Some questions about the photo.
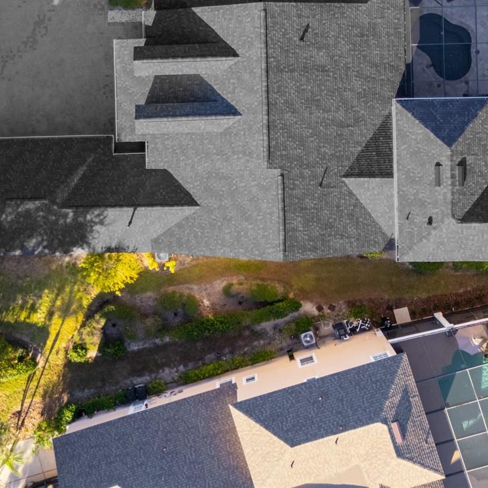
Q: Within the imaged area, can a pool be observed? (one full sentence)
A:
Yes, the frame does contain a pool.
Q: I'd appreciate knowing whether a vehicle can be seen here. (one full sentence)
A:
No, no vehicle can be seen from above.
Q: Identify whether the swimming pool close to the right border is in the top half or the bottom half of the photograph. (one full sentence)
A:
Seen from above, the swimming pool close to the right border lies in the top half of the view.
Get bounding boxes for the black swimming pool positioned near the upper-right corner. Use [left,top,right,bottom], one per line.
[412,9,477,85]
